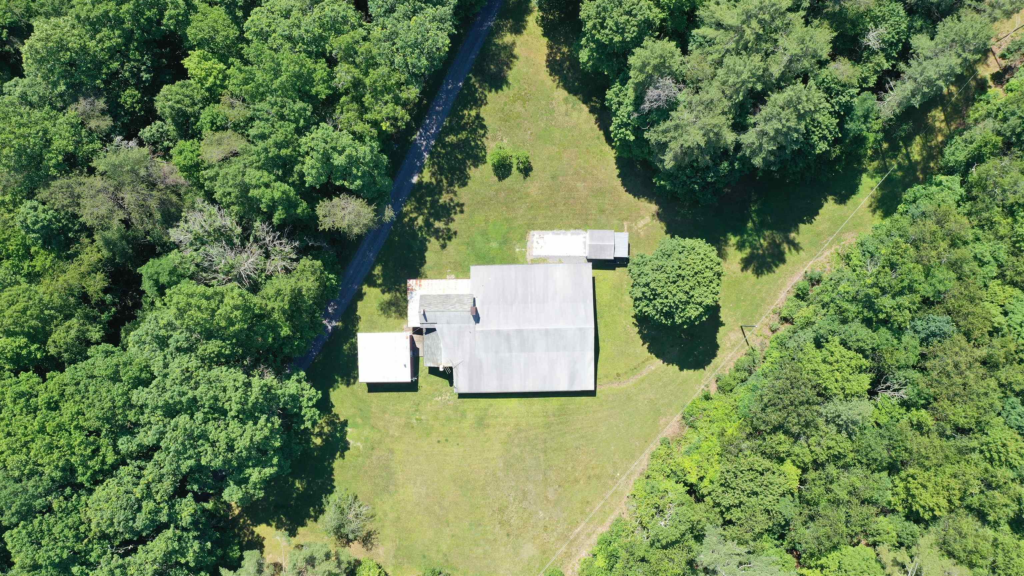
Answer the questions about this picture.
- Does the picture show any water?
No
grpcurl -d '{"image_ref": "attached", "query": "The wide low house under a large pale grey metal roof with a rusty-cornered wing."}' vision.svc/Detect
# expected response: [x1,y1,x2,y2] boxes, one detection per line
[407,262,594,393]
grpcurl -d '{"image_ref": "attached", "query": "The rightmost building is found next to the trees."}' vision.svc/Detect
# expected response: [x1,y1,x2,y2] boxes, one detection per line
[586,230,628,260]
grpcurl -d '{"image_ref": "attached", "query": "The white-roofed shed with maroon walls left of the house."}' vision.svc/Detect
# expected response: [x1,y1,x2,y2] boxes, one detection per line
[357,332,416,383]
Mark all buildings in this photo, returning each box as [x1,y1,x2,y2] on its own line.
[586,230,628,260]
[357,332,416,383]
[407,262,594,393]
